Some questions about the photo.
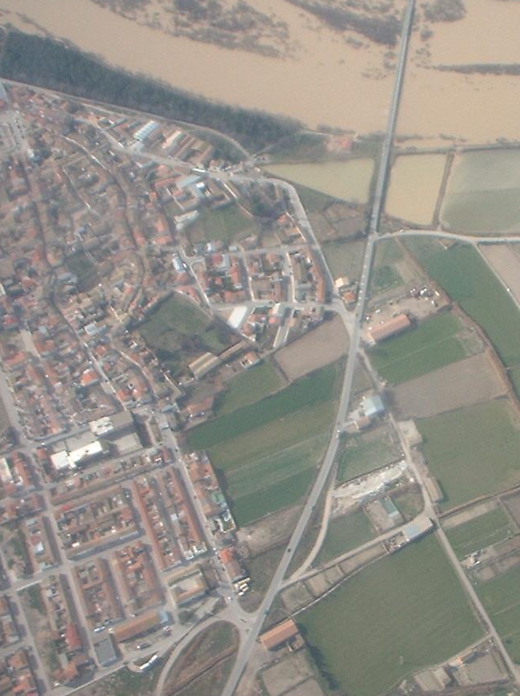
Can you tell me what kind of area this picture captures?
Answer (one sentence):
It's a residential area.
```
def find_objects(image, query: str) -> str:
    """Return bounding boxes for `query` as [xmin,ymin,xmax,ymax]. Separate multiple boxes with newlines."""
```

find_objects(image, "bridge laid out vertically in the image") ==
[388,0,415,138]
